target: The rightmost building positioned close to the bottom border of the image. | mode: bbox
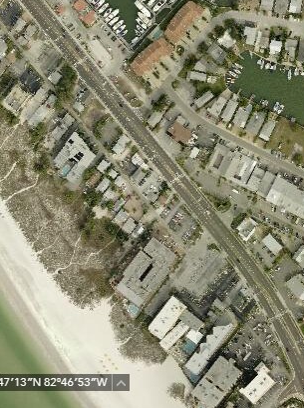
[240,364,275,407]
